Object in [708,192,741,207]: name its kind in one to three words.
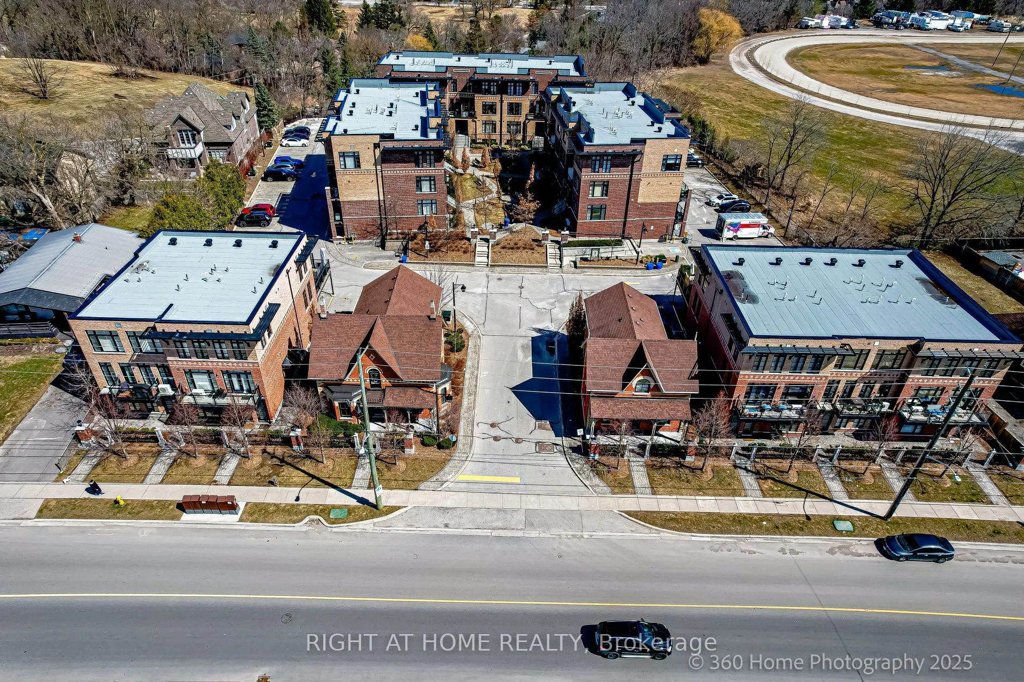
car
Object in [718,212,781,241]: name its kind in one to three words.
truck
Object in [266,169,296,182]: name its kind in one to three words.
vehicle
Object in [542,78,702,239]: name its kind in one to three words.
building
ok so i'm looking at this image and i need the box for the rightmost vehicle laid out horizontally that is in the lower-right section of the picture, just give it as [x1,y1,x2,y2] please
[878,534,954,568]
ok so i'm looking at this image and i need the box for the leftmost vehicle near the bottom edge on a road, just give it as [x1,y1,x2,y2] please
[595,621,668,661]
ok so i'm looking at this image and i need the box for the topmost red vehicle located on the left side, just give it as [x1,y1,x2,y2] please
[244,203,280,217]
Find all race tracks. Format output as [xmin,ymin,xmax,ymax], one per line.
[756,35,1024,125]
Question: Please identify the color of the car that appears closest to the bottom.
black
